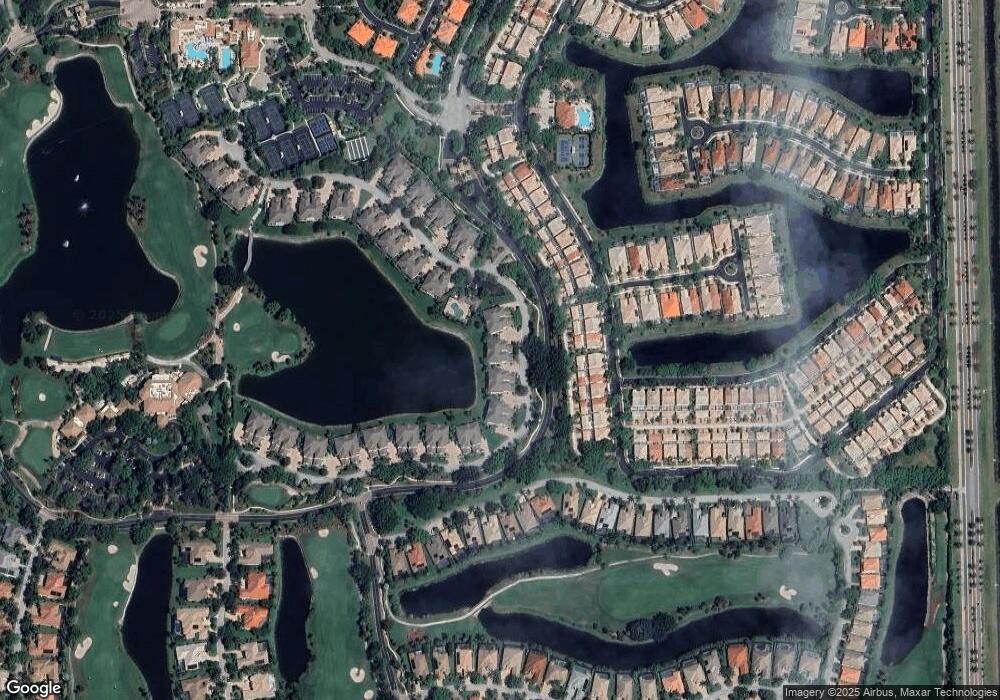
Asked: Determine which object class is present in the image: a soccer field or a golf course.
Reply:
golf course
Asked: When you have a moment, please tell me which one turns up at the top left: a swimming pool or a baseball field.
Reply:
swimming pool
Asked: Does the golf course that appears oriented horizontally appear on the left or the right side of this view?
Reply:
right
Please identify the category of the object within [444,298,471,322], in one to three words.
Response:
swimming pool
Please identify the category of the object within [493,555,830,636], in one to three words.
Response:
golf course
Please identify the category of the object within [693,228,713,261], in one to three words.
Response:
house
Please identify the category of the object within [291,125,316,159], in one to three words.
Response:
tennis court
